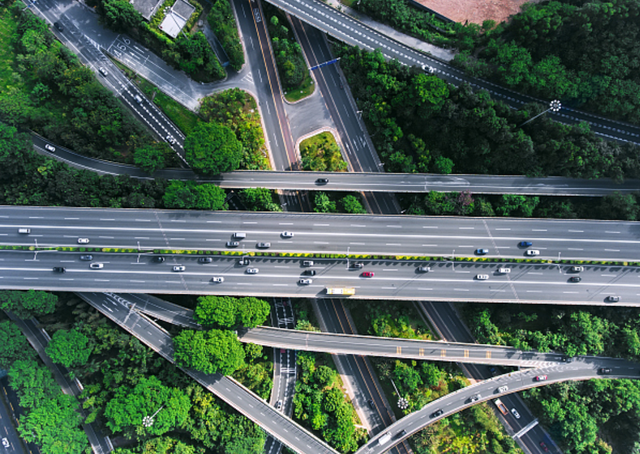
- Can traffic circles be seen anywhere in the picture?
No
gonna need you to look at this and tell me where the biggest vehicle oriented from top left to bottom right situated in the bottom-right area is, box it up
[494,398,509,416]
